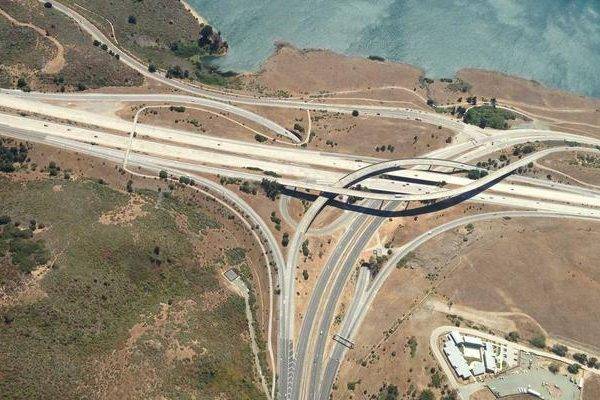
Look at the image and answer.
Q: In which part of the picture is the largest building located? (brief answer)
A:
bottom right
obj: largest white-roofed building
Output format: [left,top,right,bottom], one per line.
[443,330,499,380]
